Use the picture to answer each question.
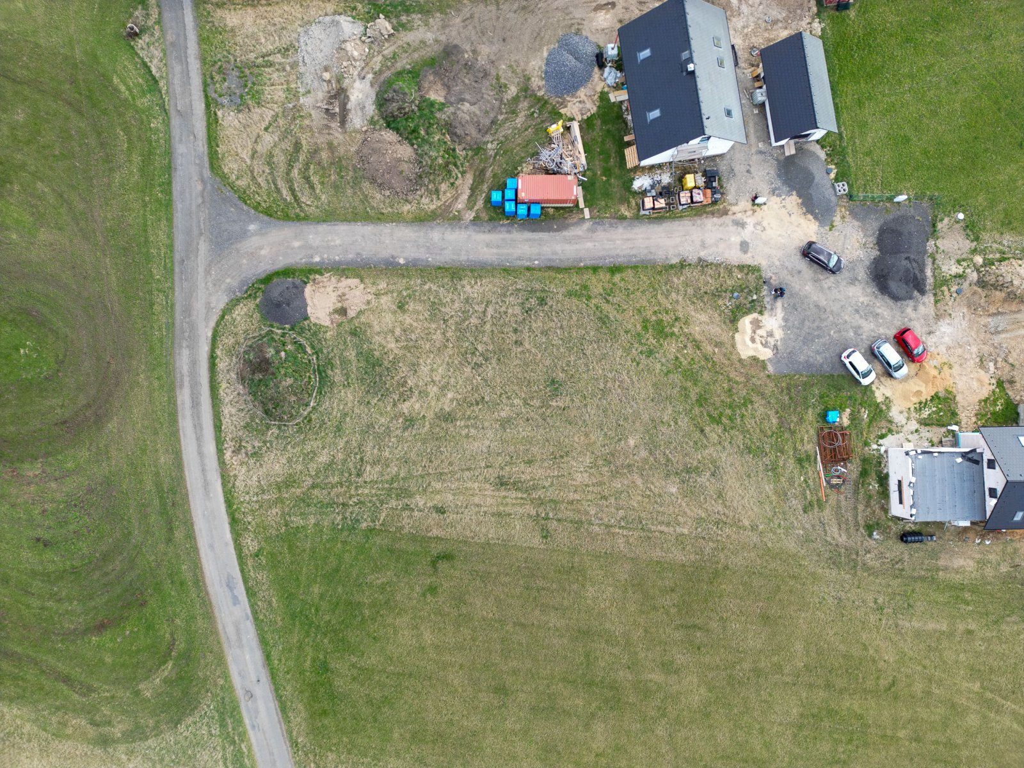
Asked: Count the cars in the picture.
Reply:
4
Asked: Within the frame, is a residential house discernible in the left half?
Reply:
No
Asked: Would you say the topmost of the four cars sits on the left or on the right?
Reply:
right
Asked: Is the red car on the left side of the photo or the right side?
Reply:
right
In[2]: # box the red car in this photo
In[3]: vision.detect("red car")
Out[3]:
[894,326,927,363]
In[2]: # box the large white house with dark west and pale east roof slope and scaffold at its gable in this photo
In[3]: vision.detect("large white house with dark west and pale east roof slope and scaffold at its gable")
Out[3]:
[611,0,748,168]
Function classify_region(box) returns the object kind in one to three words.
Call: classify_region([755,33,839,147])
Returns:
building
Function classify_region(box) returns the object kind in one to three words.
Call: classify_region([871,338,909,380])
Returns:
car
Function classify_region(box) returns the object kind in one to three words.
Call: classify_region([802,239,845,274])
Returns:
car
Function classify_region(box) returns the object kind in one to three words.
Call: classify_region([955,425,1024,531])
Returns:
house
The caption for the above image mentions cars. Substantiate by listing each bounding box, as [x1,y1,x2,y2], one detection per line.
[894,326,927,363]
[802,239,845,274]
[841,347,876,386]
[871,338,909,380]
